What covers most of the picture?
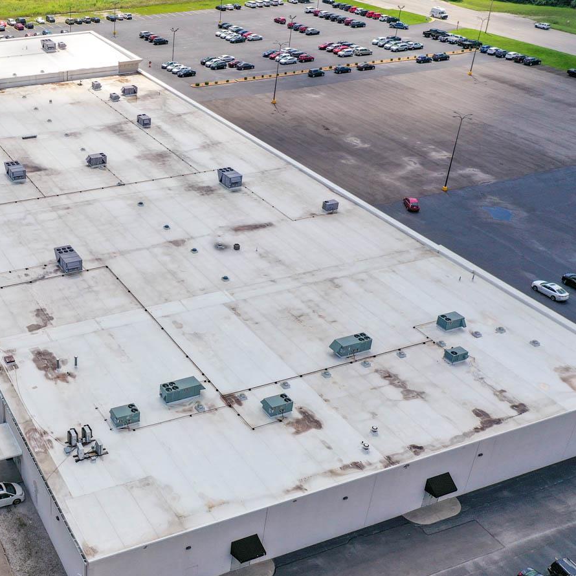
buildings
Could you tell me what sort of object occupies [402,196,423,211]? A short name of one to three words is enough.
car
